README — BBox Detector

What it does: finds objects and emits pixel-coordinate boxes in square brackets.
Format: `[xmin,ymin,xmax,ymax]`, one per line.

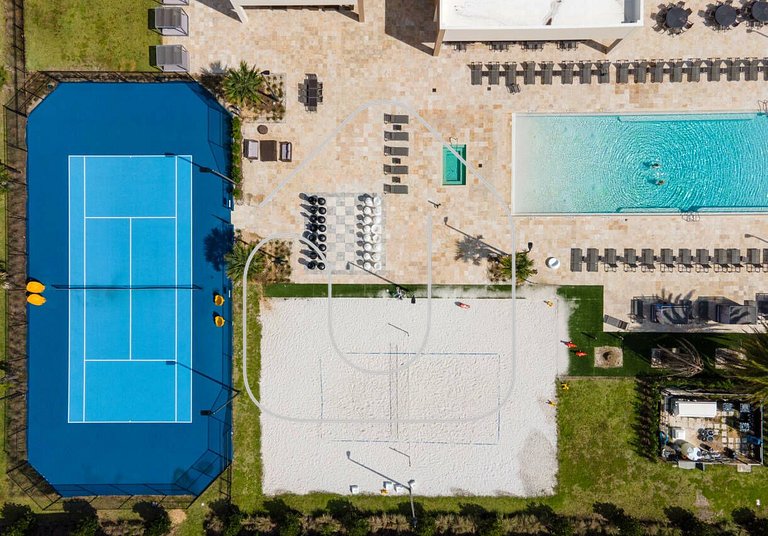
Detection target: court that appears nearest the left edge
[26,82,232,496]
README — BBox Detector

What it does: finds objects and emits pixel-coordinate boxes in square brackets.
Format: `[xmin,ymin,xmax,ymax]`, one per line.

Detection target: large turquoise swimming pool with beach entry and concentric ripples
[512,107,768,218]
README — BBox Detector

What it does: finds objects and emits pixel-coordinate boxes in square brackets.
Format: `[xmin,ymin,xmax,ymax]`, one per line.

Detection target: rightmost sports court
[258,297,560,498]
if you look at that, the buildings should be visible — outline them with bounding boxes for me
[434,0,646,55]
[230,0,364,22]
